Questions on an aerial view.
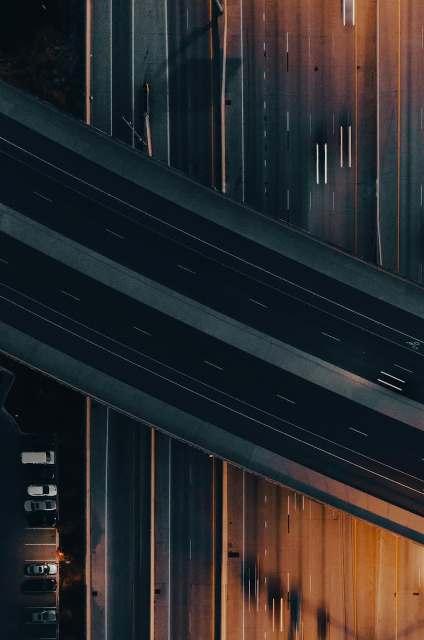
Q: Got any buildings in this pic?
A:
No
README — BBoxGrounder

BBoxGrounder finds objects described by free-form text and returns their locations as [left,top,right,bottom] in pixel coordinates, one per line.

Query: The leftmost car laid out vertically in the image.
[247,565,261,595]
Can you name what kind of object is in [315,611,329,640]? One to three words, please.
vehicle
